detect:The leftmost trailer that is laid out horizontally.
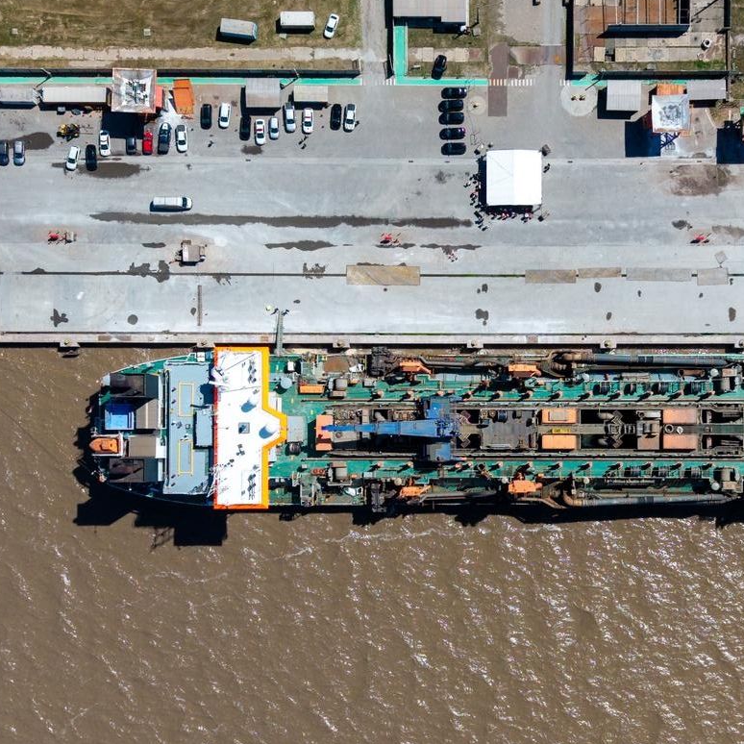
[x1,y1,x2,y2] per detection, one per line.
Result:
[0,88,41,103]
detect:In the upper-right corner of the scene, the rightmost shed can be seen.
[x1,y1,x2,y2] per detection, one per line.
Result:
[684,79,726,102]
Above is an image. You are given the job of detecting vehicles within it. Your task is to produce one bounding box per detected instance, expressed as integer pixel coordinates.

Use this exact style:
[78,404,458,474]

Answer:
[217,101,232,130]
[239,114,252,142]
[343,102,356,133]
[65,146,80,172]
[12,142,25,166]
[301,108,314,136]
[440,142,467,155]
[199,103,212,131]
[151,196,191,210]
[282,102,296,133]
[58,125,89,139]
[0,139,10,167]
[440,86,467,98]
[440,127,467,140]
[125,134,138,158]
[324,12,340,41]
[329,103,343,131]
[98,130,112,157]
[268,116,281,142]
[84,144,98,172]
[438,112,464,125]
[175,122,188,155]
[253,119,266,145]
[142,125,155,156]
[438,98,466,112]
[432,53,448,80]
[157,124,172,155]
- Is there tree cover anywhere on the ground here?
No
